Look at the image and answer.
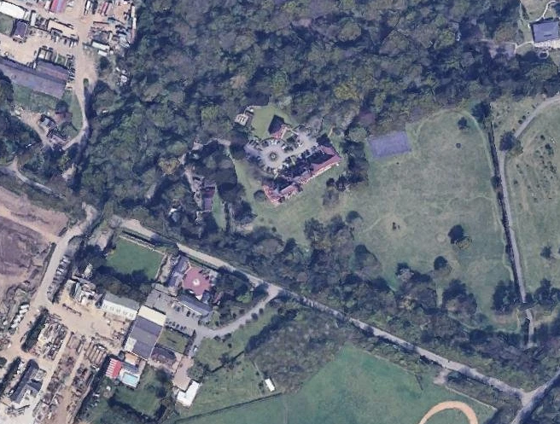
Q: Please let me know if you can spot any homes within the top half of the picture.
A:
Yes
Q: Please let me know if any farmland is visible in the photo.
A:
Yes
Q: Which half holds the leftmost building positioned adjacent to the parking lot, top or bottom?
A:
bottom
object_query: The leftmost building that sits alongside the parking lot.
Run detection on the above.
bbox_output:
[100,293,140,319]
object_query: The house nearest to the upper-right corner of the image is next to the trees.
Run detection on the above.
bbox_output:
[531,21,560,43]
